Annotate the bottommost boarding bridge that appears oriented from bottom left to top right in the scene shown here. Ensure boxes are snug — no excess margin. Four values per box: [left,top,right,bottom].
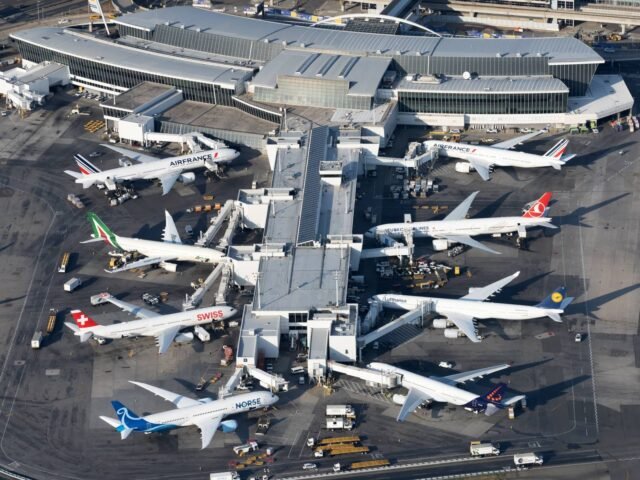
[218,362,248,401]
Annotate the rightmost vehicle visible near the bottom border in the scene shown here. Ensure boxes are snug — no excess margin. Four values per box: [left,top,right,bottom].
[514,453,541,466]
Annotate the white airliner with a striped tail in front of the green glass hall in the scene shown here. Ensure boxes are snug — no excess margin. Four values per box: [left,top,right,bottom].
[428,129,574,179]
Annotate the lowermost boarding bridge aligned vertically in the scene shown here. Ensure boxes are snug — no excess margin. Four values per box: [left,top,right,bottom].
[215,263,236,307]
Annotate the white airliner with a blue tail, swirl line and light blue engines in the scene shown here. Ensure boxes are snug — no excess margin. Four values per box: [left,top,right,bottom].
[106,379,279,448]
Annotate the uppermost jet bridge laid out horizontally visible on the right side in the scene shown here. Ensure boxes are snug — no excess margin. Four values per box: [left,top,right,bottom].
[368,146,447,180]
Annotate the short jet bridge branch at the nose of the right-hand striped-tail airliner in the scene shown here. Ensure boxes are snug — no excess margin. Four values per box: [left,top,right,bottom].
[403,141,429,162]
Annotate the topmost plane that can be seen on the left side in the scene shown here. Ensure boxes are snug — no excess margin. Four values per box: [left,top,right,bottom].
[67,144,238,195]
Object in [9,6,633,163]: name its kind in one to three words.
building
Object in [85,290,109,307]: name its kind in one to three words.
vehicle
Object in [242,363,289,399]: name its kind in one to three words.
jet bridge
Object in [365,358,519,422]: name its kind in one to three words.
airplane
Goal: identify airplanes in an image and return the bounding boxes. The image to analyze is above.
[67,144,238,195]
[365,358,519,422]
[366,190,555,254]
[106,379,279,448]
[81,208,228,272]
[428,129,574,179]
[69,290,236,356]
[374,266,575,339]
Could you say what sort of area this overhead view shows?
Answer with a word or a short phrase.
airport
